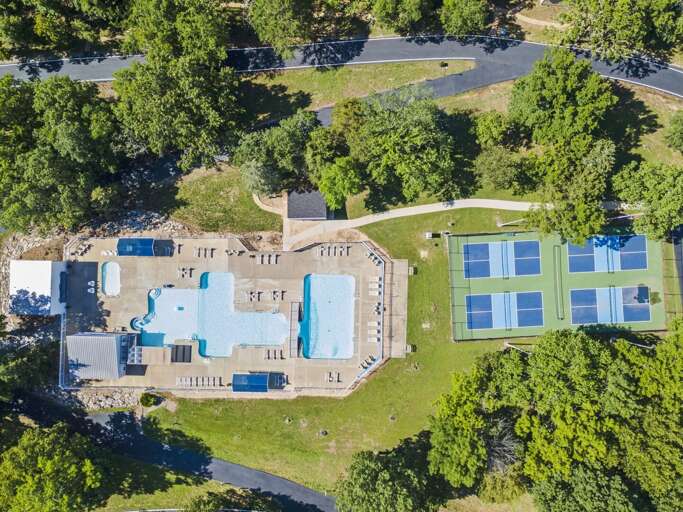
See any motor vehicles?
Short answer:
No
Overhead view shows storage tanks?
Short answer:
No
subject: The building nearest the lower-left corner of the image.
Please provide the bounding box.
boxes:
[67,331,129,378]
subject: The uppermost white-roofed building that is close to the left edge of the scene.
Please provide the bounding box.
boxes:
[11,261,66,315]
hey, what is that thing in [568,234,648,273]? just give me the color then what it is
blue sports court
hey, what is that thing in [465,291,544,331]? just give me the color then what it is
blue sports court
